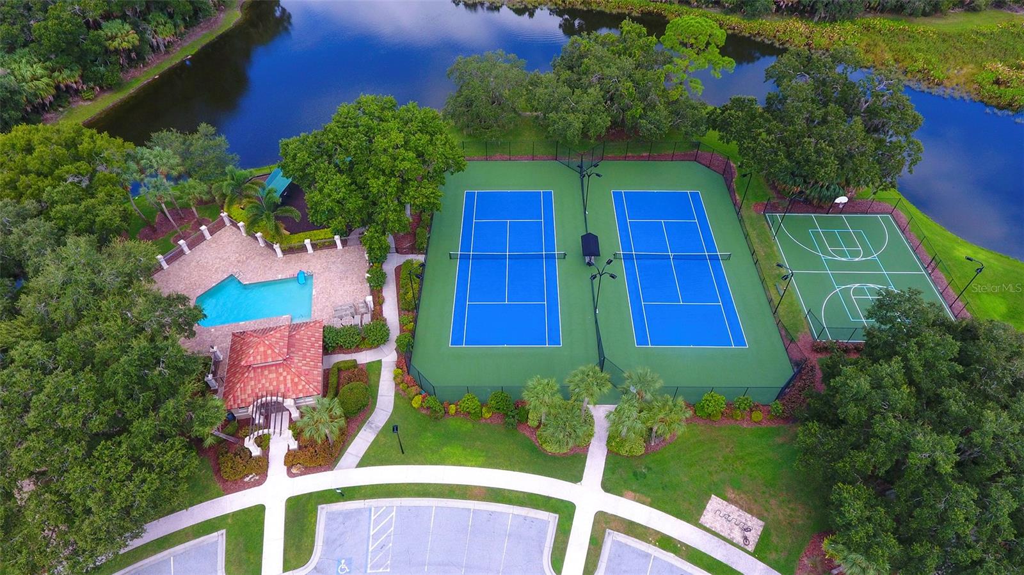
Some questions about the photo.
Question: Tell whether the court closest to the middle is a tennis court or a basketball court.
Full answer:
Looking closely, the court closest to the middle is a tennis court.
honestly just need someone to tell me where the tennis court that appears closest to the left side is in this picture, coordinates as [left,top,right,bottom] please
[409,160,605,403]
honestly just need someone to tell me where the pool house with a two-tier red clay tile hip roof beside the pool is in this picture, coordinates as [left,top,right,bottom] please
[224,317,325,421]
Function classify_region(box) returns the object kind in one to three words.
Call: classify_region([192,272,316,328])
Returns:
swimming pool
